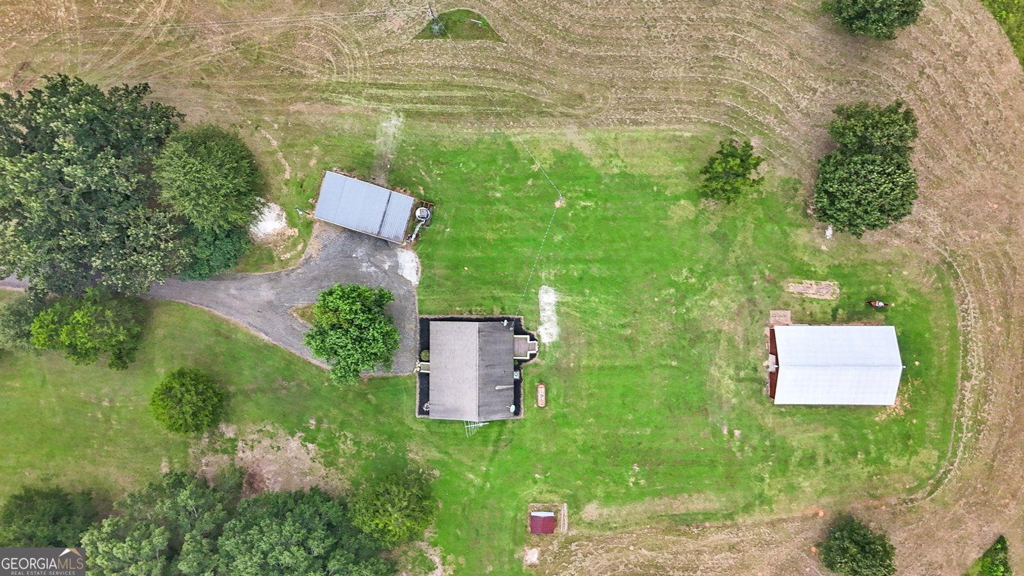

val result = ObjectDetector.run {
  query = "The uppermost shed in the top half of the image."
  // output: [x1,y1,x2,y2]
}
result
[313,171,416,244]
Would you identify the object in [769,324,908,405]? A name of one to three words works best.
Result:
barn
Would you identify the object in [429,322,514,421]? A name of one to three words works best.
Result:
house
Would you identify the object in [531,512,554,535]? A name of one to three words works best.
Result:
shed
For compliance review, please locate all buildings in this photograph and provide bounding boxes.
[531,512,554,535]
[769,324,908,405]
[313,171,416,244]
[429,322,514,421]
